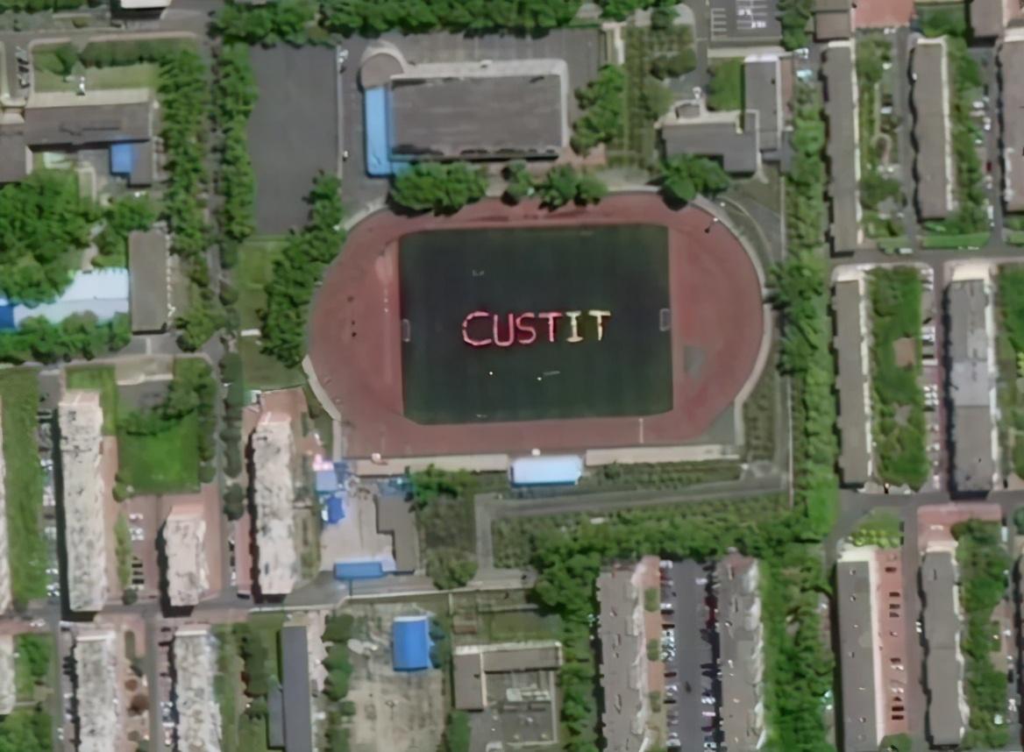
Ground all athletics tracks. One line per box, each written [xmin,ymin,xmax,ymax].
[304,189,763,458]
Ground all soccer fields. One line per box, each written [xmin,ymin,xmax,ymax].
[401,225,672,424]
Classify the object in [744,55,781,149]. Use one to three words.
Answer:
building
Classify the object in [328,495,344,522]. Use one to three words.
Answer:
shed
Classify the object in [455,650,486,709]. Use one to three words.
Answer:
building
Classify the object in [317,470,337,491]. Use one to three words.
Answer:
shed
